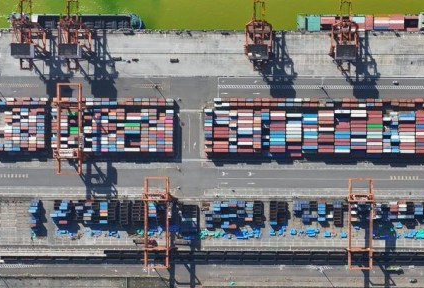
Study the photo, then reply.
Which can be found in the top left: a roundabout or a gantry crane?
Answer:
gantry crane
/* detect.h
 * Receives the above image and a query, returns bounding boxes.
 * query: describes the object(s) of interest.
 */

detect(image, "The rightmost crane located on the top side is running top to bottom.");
[328,0,360,71]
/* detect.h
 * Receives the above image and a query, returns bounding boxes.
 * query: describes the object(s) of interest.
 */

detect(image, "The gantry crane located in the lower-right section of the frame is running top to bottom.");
[340,177,375,268]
